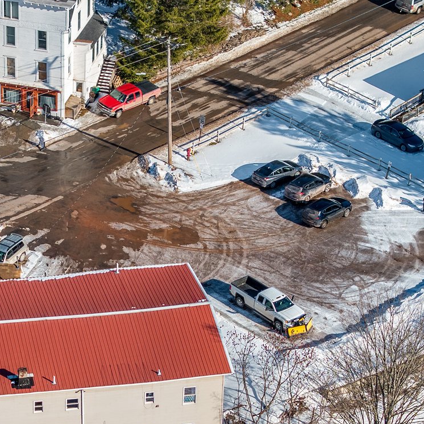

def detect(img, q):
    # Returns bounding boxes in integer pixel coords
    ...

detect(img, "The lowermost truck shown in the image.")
[231,281,303,331]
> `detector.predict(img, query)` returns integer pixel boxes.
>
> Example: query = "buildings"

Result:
[0,0,144,128]
[0,262,234,424]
